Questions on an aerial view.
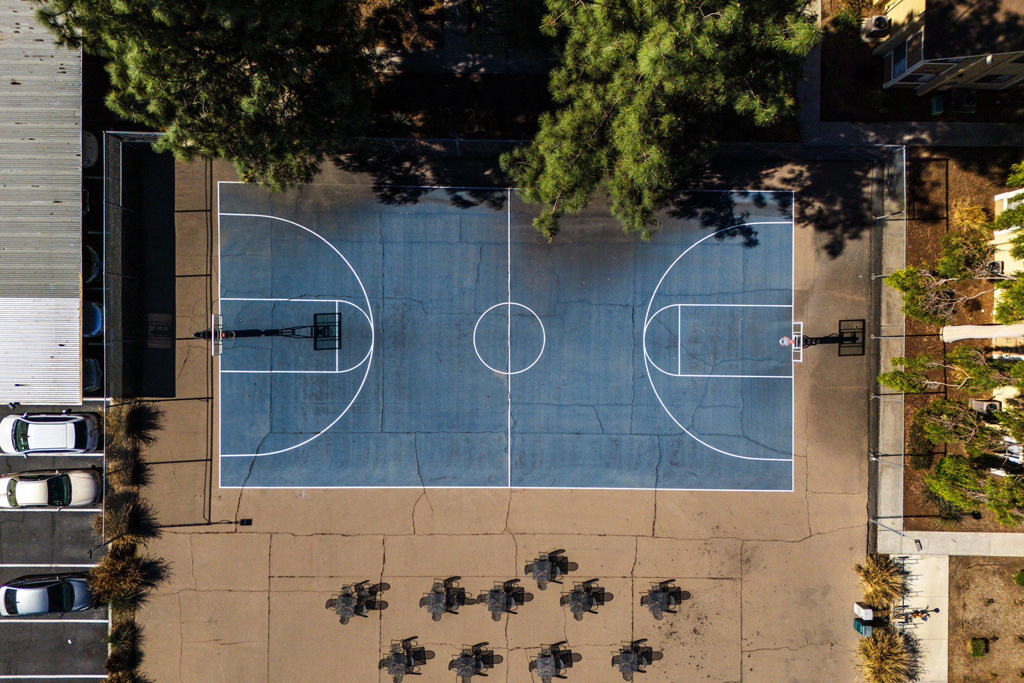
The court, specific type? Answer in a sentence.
What you see as the court is a basketball court.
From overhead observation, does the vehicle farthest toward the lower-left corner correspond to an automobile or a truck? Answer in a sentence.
I'd say the vehicle farthest toward the lower-left corner is an automobile.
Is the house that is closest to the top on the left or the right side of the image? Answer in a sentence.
The house that is closest to the top appears in the right half of the scene.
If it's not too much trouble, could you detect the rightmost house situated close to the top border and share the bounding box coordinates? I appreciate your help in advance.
[874,0,1024,96]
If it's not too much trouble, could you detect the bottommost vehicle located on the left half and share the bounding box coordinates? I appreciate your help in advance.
[1,570,105,619]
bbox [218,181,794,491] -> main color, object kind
blue basketball court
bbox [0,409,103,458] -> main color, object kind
white car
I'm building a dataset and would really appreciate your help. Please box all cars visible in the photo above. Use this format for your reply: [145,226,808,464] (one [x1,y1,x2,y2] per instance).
[0,467,103,514]
[1,570,105,619]
[82,246,108,285]
[80,301,109,339]
[0,409,103,458]
[84,356,108,394]
[83,131,104,173]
